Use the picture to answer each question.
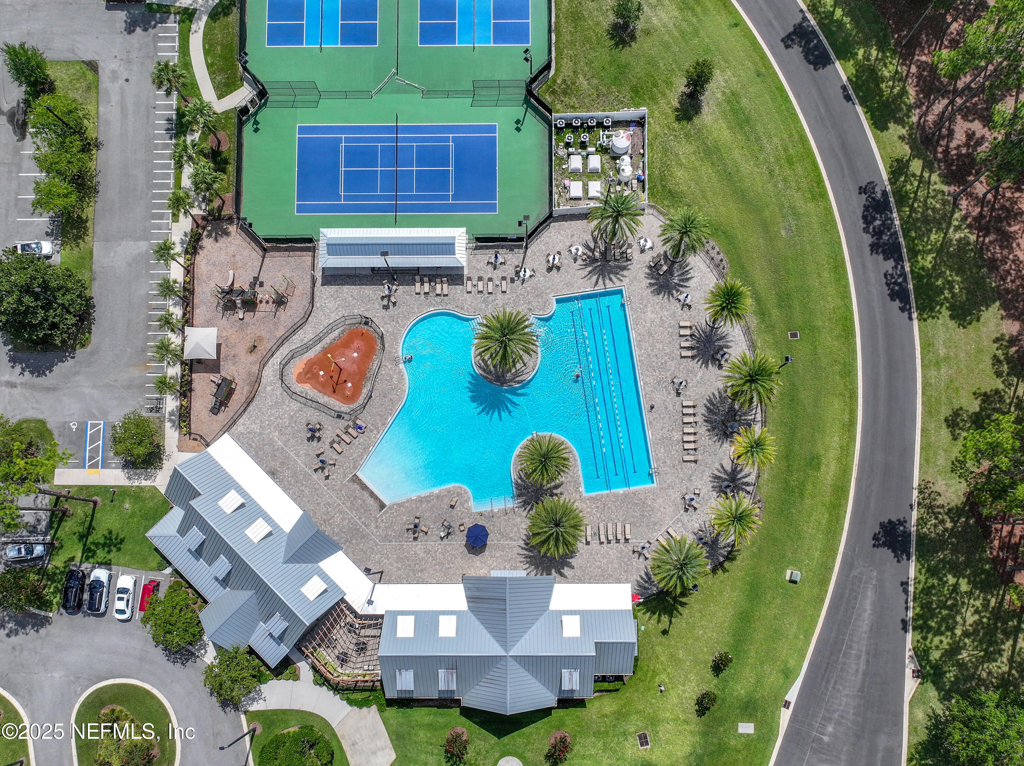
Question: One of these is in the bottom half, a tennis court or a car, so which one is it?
car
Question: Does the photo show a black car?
Yes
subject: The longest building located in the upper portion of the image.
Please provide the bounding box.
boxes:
[319,227,466,269]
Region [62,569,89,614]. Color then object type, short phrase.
black car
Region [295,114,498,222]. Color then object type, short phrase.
blue tennis court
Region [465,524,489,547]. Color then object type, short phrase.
blue umbrella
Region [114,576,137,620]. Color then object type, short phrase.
white car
